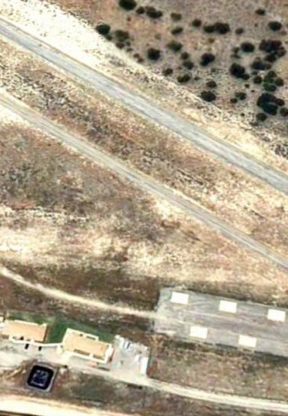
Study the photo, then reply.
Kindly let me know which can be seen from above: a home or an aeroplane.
home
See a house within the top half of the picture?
No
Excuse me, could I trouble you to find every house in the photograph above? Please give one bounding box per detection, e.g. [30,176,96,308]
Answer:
[61,330,112,365]
[0,320,46,343]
